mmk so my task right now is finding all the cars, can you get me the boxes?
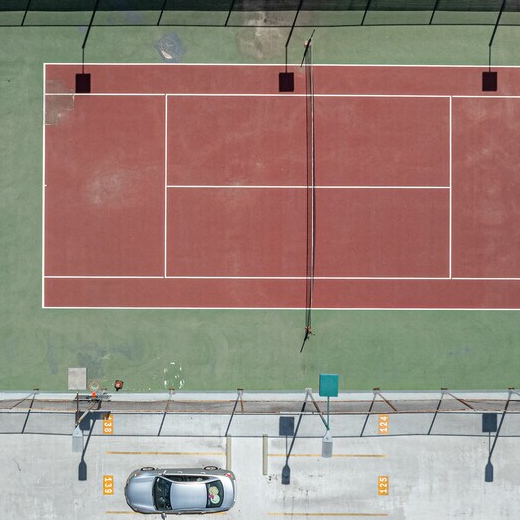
[127,467,234,519]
